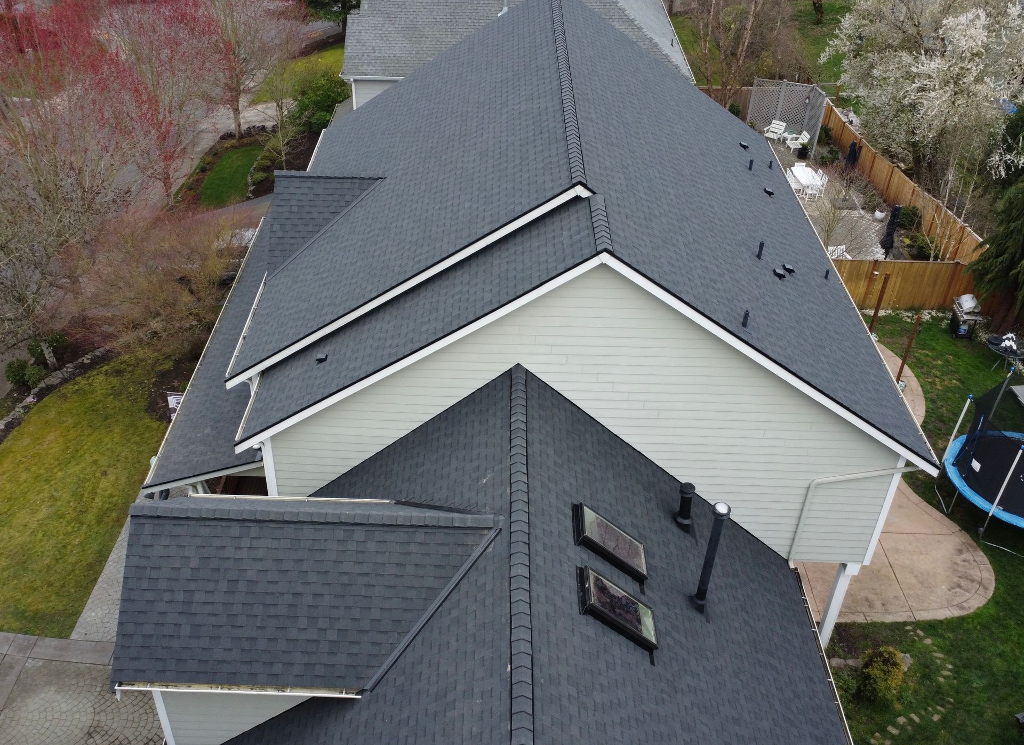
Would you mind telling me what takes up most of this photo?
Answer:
buildings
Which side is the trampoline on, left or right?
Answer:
right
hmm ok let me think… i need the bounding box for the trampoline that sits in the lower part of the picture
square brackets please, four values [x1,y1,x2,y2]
[930,369,1024,541]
